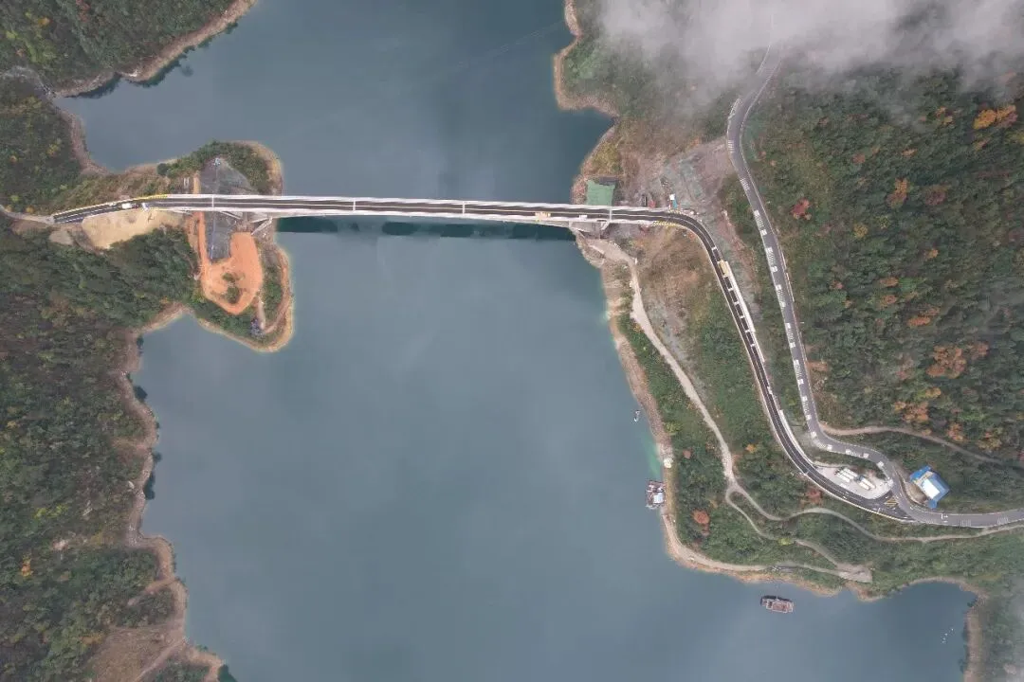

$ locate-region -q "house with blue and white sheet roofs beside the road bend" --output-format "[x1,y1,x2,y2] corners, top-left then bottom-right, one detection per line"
[909,465,949,509]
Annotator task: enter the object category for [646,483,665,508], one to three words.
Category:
pier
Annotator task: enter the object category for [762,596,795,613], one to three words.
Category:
ship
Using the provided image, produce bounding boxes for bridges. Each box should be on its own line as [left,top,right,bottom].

[141,193,657,233]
